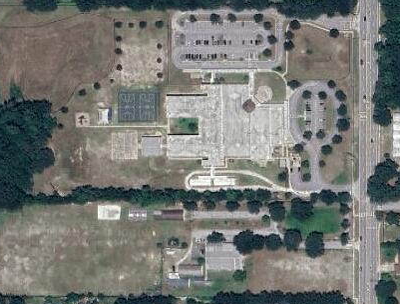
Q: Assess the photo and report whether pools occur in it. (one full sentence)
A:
No, no pool can be seen from above.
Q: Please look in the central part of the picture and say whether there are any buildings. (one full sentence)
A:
Yes, I can see a building in the central part of the picture.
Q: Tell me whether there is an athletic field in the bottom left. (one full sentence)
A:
Yes, an athletic field shows up in the bottom left.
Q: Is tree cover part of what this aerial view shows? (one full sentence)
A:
Yes, some tree cover is visible.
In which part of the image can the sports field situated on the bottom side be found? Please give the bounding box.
[0,205,161,296]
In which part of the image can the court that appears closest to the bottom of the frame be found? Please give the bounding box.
[111,131,138,159]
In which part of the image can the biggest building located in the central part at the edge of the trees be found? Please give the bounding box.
[166,83,287,167]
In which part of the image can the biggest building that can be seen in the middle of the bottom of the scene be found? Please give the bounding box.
[207,241,245,271]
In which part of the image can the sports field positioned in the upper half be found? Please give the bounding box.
[0,14,116,104]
